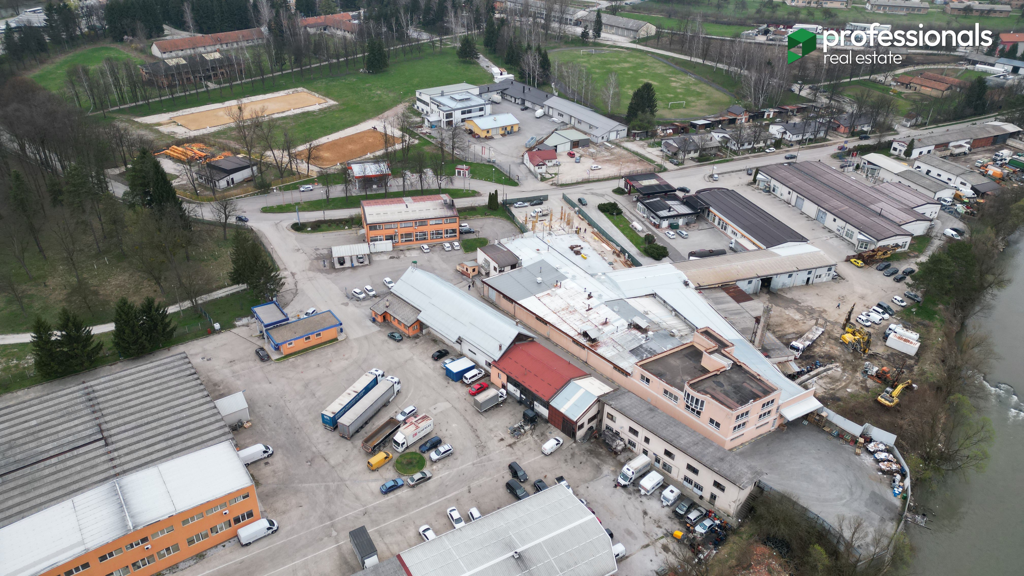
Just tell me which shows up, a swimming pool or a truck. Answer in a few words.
truck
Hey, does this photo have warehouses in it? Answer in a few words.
Yes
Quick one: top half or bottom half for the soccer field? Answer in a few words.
top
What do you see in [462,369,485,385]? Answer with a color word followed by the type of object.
white vehicle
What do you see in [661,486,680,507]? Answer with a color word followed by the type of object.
white camper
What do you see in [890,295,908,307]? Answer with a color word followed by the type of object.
white vehicle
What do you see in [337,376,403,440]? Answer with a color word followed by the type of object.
white truck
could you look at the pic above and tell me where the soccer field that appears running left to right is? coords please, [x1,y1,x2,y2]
[556,50,722,116]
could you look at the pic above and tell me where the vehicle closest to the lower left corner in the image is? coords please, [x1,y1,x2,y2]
[233,515,276,542]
